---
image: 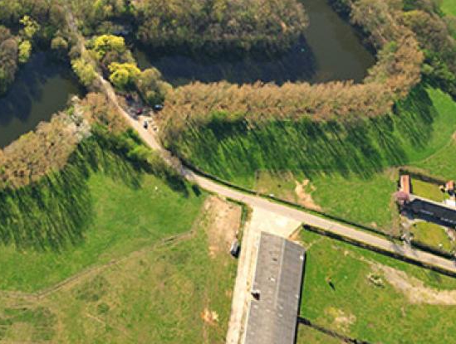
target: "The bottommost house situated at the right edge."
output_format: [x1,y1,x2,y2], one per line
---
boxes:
[409,196,456,238]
